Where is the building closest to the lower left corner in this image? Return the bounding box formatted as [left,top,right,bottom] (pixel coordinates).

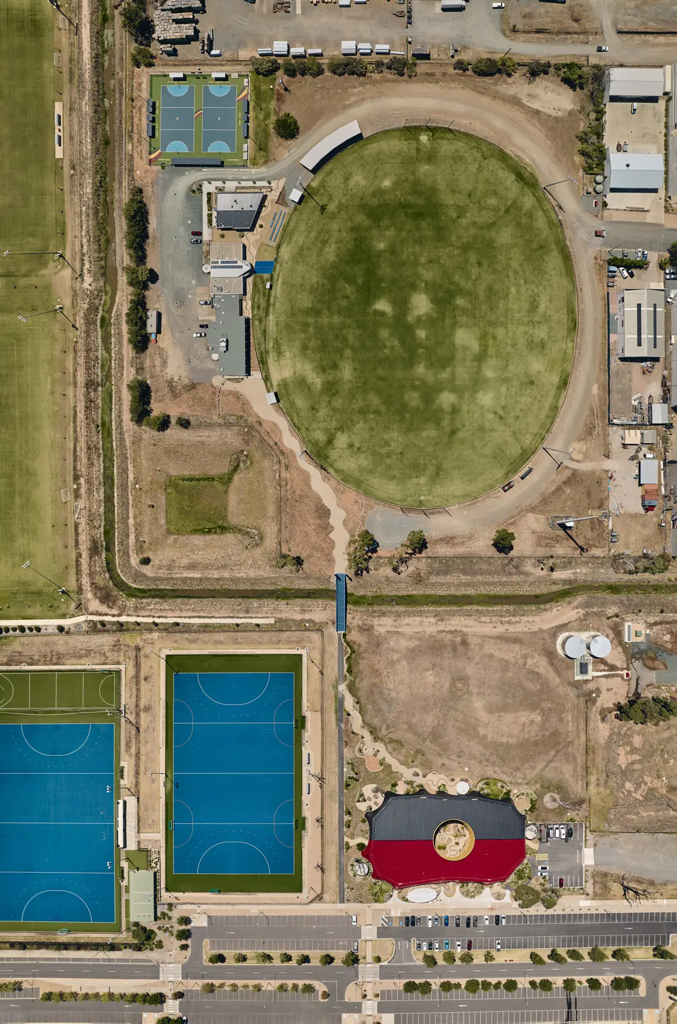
[130,866,157,921]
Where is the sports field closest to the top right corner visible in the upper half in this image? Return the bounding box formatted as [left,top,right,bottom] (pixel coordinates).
[266,126,577,509]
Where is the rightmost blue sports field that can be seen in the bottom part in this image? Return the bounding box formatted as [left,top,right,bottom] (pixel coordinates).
[166,654,305,892]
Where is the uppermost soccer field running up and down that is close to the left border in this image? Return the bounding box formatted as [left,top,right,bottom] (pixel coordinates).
[0,0,72,619]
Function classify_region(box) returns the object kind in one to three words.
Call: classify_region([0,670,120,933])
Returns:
sports field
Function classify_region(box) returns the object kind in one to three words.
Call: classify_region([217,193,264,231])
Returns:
building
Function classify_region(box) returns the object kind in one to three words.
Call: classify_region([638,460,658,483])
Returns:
shed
